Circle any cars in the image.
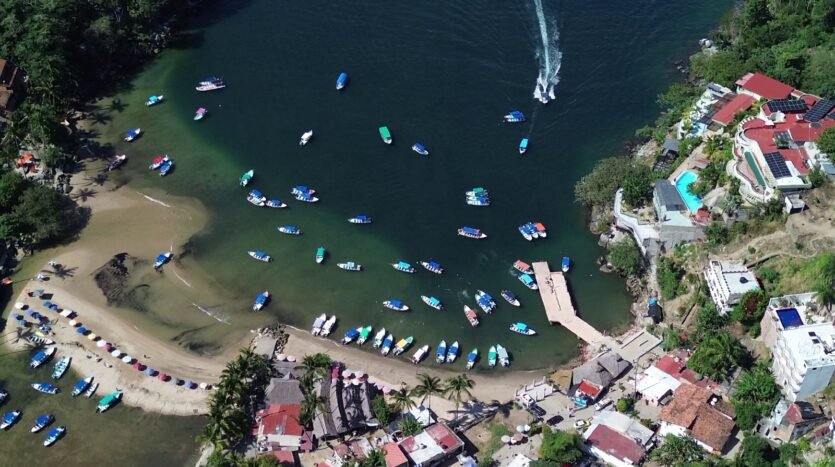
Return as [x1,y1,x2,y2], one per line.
[592,399,609,412]
[572,419,589,431]
[547,414,563,426]
[528,404,547,417]
[521,392,535,406]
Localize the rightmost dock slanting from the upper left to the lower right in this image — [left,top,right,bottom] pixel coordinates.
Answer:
[532,262,618,355]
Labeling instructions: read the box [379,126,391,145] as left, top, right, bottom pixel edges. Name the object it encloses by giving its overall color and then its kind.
green boat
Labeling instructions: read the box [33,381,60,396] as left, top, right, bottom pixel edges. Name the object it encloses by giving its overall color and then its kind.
blue boat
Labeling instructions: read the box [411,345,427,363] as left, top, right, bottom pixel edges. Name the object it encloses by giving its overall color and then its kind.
white boat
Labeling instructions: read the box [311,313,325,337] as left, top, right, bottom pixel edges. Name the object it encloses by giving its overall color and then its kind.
white boat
